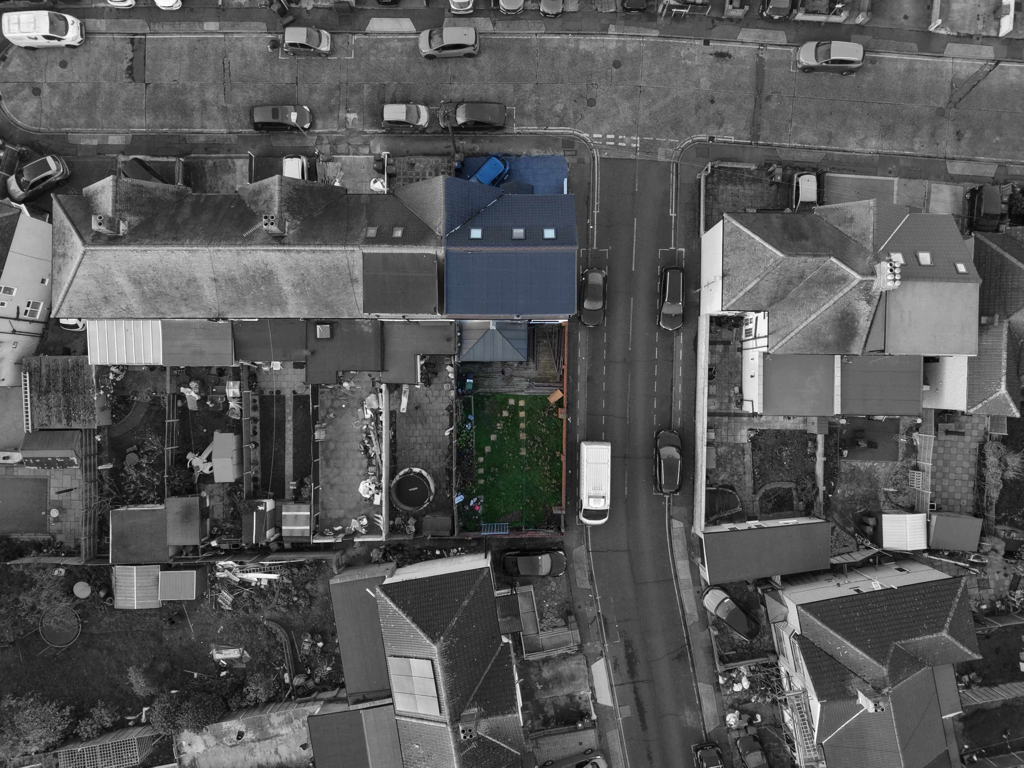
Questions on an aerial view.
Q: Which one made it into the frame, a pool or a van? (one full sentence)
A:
Visible in the photo is a van.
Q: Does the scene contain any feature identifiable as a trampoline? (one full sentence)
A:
Yes, there's a trampoline here.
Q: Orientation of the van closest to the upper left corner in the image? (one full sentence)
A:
The van closest to the upper left corner has been laid out from left to right relative to the frame.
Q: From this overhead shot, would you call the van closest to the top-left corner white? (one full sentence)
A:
Yes, the van closest to the top-left corner is white.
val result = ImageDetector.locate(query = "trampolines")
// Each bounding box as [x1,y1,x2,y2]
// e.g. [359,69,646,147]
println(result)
[387,468,435,516]
[38,602,84,648]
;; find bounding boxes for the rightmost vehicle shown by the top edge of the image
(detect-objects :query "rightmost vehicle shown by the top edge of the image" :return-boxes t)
[795,38,865,77]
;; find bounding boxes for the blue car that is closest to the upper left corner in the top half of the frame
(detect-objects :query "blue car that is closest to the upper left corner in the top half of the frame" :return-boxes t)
[460,149,512,186]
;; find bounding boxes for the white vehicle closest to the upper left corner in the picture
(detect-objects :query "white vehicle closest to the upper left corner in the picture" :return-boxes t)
[2,10,90,51]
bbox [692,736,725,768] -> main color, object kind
black car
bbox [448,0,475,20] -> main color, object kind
gray car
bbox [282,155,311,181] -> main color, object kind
white car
